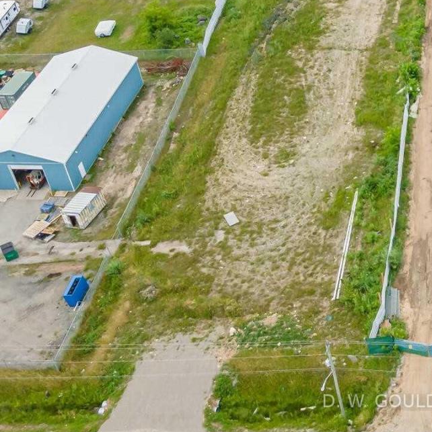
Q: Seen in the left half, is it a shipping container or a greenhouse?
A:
shipping container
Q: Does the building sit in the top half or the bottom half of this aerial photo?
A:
top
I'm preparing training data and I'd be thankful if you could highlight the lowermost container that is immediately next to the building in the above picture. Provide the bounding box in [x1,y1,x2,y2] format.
[58,174,112,229]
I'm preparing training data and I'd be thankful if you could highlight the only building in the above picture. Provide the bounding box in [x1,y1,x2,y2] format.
[0,43,140,192]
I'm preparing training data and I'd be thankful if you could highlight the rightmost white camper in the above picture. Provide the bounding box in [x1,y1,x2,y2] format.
[90,21,116,40]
